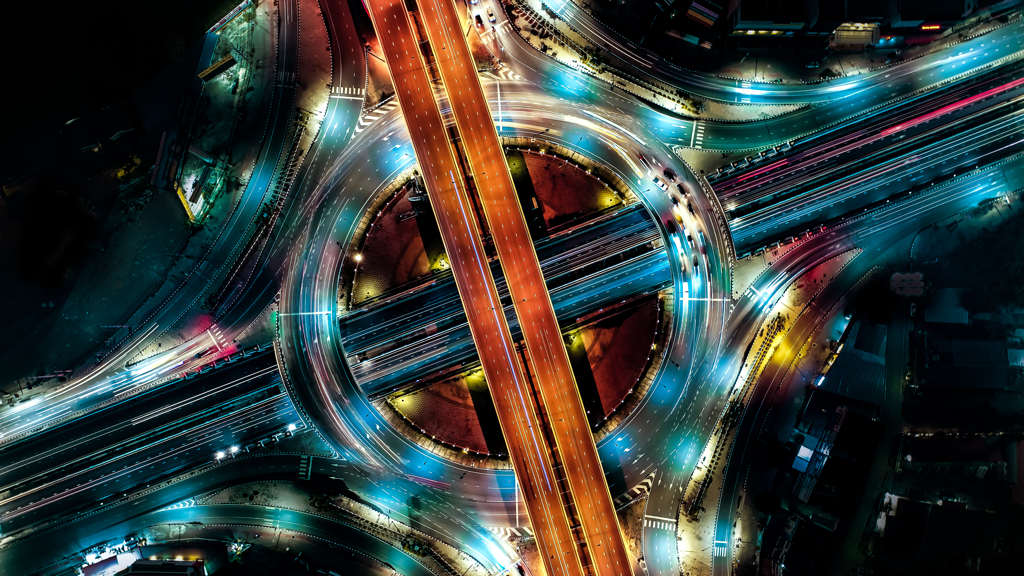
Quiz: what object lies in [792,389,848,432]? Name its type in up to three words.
building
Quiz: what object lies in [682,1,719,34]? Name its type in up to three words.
building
